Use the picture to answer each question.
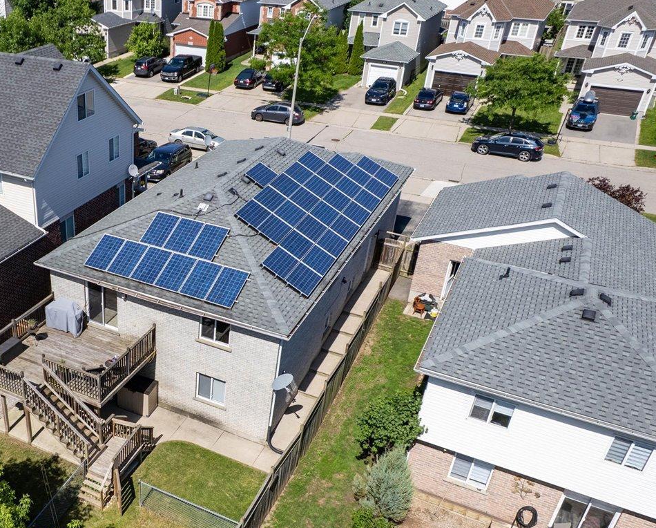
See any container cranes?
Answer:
No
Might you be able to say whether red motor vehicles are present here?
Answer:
No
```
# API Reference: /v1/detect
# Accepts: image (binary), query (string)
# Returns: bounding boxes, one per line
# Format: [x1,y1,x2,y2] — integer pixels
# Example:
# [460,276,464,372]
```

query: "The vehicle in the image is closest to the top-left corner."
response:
[133,53,167,76]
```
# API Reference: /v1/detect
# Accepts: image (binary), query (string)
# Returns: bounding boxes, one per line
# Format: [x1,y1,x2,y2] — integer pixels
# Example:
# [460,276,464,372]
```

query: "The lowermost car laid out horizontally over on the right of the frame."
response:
[473,131,547,164]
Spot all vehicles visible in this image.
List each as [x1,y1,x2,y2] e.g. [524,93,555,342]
[443,92,476,114]
[166,126,220,150]
[159,55,204,81]
[230,68,262,89]
[411,86,447,110]
[257,69,295,92]
[133,53,167,76]
[366,75,397,103]
[571,98,603,130]
[133,138,169,163]
[473,131,547,164]
[251,100,305,125]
